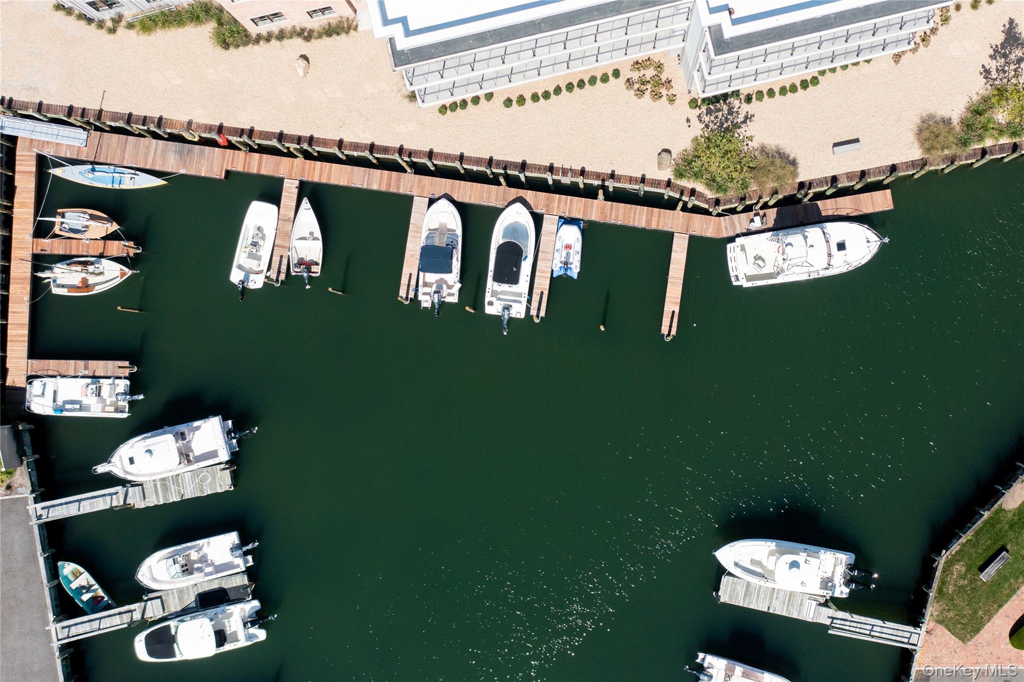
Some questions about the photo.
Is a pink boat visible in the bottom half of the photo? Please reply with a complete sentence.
No, I can find no pink boat in the bottom half of the photo.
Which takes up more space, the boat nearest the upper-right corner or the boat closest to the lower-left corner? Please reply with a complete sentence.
The boat nearest the upper-right corner is bigger than the boat closest to the lower-left corner.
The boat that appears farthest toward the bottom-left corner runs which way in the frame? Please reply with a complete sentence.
What the image shows is the boat that appears farthest toward the bottom-left corner lying diagonally.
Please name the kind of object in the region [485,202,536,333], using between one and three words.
boat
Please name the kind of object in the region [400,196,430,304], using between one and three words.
pier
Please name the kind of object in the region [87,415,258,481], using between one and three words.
boat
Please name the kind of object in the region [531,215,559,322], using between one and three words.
pier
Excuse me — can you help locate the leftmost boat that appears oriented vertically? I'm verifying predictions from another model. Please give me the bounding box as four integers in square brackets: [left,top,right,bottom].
[231,201,279,300]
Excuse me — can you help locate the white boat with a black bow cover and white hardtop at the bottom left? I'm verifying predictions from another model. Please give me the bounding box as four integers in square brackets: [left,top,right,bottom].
[133,599,276,661]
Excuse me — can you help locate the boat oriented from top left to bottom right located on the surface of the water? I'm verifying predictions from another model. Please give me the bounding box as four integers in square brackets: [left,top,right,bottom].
[58,562,118,613]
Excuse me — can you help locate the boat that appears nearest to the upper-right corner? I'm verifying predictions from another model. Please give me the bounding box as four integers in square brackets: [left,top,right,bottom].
[726,219,889,288]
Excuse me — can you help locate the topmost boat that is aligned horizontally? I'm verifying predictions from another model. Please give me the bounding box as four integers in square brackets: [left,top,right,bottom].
[33,149,171,189]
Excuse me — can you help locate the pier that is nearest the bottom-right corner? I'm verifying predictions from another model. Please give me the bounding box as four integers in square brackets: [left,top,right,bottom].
[720,575,820,623]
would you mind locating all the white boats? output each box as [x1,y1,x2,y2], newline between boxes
[551,224,583,277]
[291,197,323,287]
[133,531,257,590]
[419,197,462,316]
[687,653,791,682]
[485,202,536,333]
[712,539,875,597]
[22,376,145,418]
[133,599,276,661]
[19,257,139,295]
[87,415,258,481]
[231,201,279,300]
[33,149,171,189]
[726,219,889,288]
